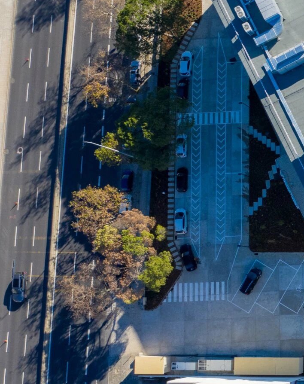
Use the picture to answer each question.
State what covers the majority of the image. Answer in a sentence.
What you mostly see from above here is paved ground.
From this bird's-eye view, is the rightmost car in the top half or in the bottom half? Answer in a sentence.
Seen from above, the rightmost car lies in the bottom half of the view.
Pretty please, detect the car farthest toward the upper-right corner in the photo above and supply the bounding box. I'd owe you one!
[179,51,194,77]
